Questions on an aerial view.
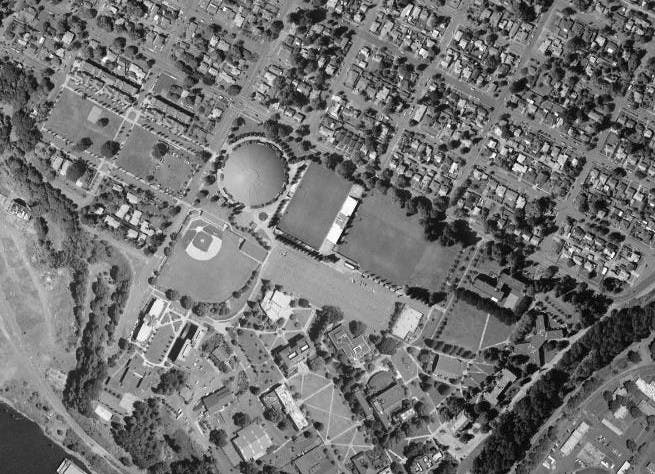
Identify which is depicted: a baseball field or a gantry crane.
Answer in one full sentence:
There is a baseball field in the scene.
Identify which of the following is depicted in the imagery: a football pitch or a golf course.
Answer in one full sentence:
Looking from above, you can make out a football pitch.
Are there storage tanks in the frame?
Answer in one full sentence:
No, there is no storage tank in the image.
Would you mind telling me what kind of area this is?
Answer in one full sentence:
The area seen from above is a residential area.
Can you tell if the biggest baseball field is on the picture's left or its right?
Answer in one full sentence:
The biggest baseball field appears in the left half of the scene.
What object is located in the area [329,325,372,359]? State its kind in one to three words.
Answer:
building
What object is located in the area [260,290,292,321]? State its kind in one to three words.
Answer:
building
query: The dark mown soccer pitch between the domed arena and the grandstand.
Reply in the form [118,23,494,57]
[280,164,351,246]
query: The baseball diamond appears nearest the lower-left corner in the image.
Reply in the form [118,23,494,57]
[154,210,261,303]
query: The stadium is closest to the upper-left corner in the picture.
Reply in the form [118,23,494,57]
[224,141,288,206]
